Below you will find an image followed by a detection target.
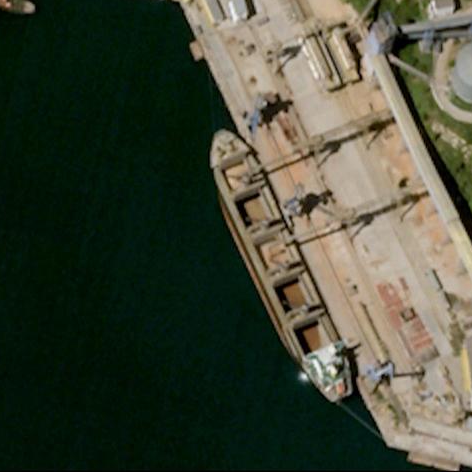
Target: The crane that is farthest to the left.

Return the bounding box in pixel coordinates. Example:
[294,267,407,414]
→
[241,91,268,150]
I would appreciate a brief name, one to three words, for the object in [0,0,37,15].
boat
